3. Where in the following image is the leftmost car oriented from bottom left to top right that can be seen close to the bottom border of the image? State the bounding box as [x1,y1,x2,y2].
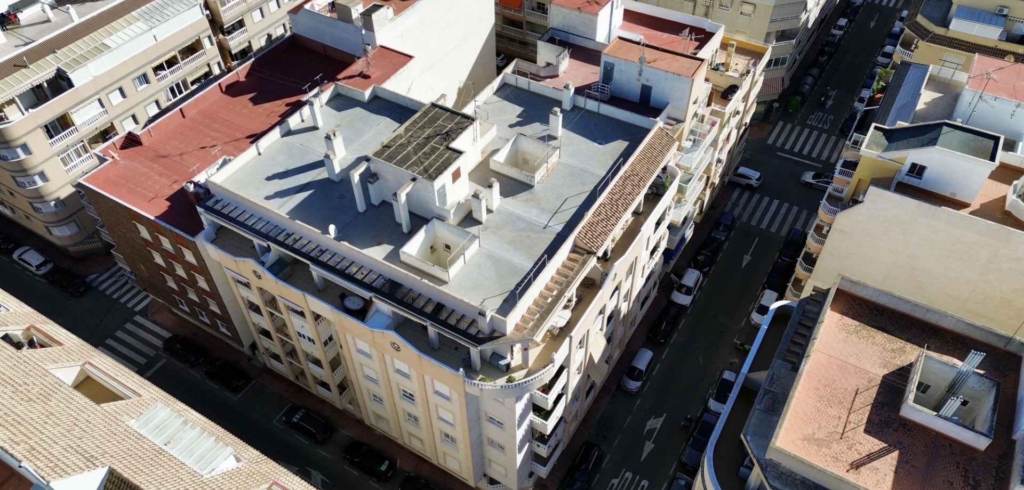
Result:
[560,430,612,490]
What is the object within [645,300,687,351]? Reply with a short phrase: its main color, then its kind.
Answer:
black car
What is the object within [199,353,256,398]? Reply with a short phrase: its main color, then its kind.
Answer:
black car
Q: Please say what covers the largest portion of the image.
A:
buildings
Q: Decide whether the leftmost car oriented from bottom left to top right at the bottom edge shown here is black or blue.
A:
black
